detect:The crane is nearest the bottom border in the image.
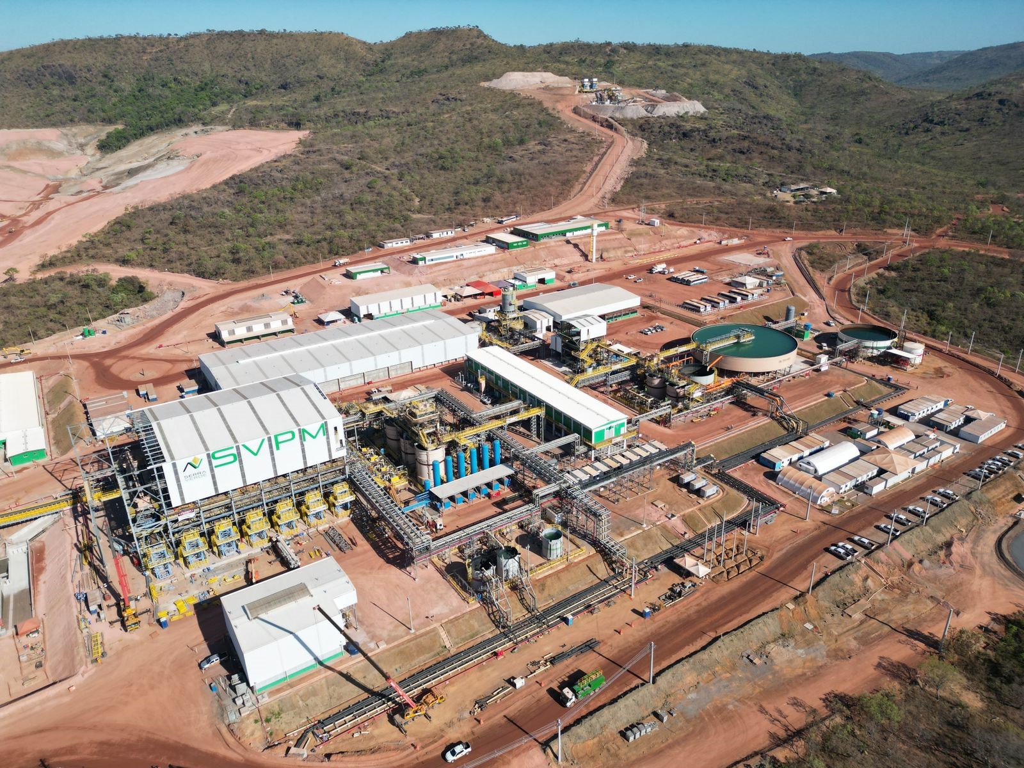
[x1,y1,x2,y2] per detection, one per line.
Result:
[327,610,448,727]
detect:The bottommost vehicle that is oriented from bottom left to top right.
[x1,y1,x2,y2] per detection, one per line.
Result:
[445,741,471,767]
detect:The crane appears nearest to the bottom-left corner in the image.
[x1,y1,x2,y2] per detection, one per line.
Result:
[92,480,155,642]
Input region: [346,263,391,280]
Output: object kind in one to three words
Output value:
shed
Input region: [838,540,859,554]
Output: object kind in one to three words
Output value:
vehicle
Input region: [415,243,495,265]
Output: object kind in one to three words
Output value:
building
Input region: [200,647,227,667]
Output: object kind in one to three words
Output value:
vehicle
